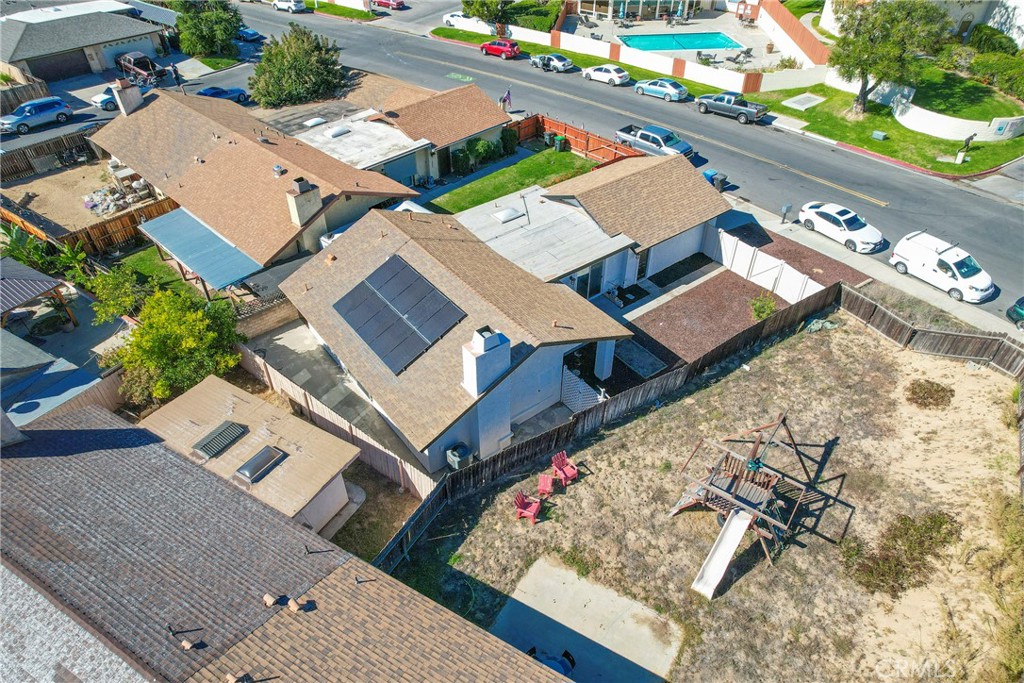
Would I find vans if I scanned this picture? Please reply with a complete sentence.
Yes, there's a van here.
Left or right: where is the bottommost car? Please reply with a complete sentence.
It is on the right.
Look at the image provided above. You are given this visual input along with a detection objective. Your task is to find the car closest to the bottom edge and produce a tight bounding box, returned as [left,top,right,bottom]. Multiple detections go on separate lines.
[996,294,1024,334]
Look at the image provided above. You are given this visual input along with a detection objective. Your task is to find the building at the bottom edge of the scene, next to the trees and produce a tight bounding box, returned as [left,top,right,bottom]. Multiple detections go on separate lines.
[0,411,581,683]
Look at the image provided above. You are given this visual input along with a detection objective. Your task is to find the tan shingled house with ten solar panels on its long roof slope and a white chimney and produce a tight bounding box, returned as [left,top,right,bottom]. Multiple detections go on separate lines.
[278,155,733,474]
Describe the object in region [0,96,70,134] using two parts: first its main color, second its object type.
blue car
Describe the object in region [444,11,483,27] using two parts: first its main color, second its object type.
white car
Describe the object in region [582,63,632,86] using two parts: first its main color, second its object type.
white car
